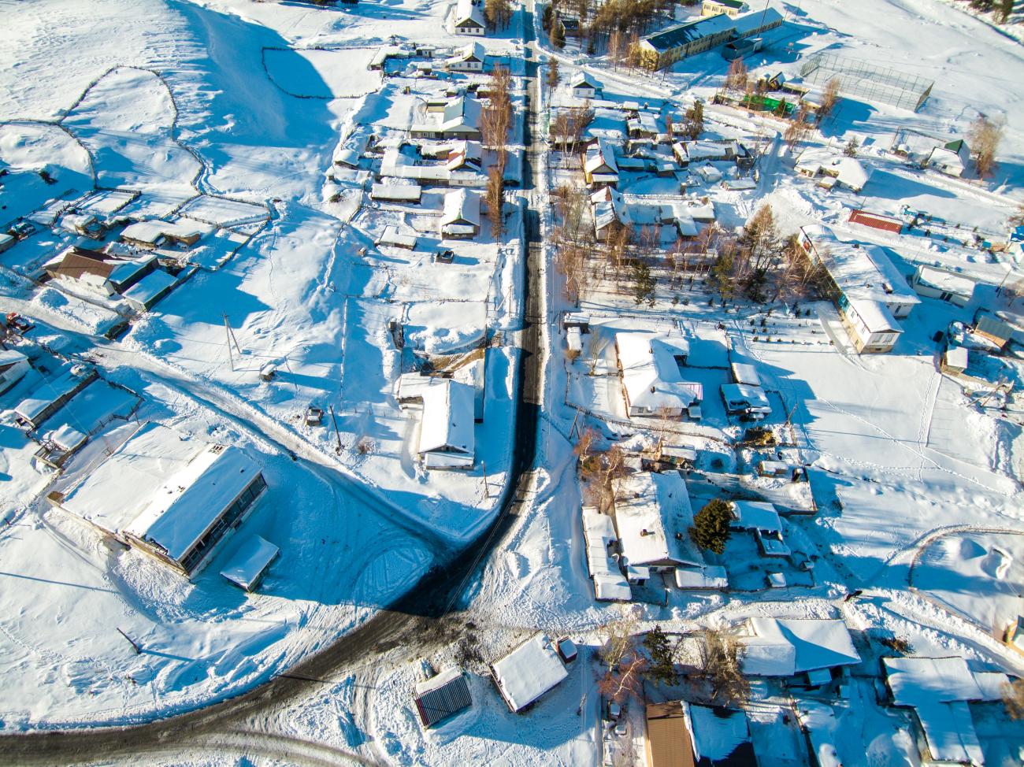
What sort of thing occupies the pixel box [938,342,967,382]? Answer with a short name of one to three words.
shed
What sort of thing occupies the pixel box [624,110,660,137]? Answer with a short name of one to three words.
barn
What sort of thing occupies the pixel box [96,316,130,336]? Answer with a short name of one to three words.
vehicle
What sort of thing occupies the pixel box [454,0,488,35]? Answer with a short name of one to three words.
house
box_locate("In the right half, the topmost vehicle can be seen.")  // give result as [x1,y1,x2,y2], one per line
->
[927,329,949,341]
